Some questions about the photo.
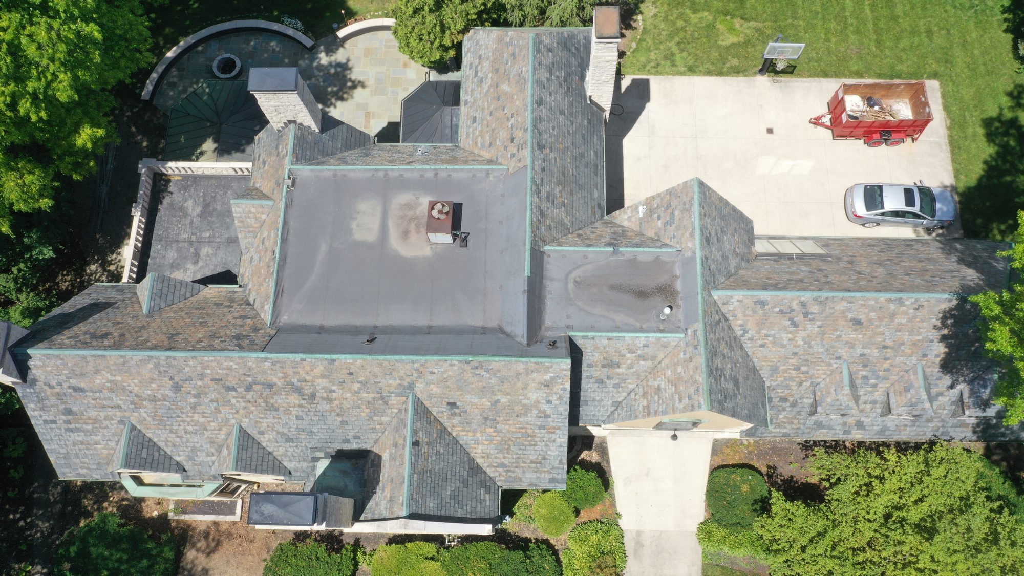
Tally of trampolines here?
0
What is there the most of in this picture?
buildings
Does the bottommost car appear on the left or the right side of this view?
right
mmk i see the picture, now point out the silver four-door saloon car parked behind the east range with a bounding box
[843,180,959,233]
